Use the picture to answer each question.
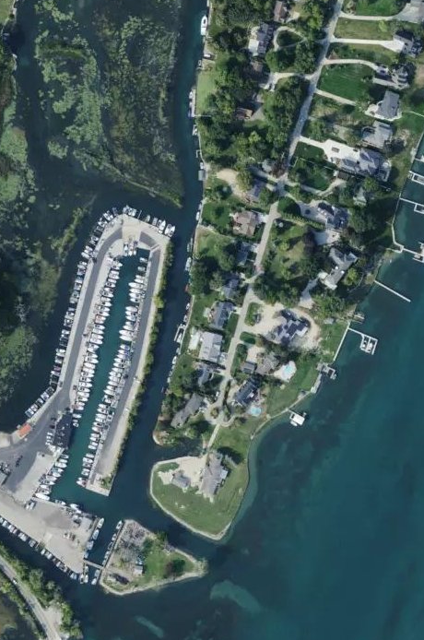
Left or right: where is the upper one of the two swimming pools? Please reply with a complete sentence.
The upper one of the two swimming pools sits on the right side.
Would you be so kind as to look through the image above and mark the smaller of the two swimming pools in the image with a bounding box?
[249,402,263,416]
